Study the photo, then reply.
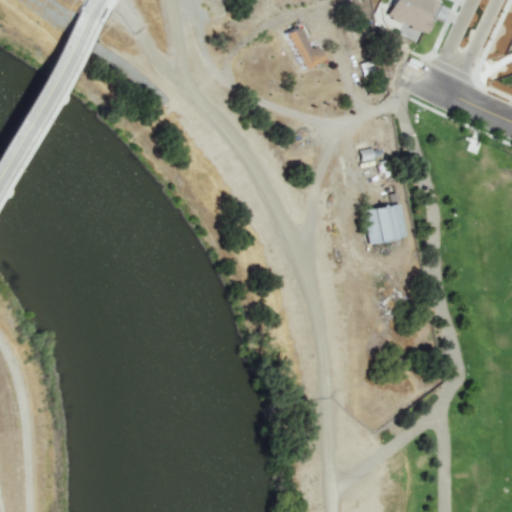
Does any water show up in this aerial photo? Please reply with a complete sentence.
Yes, there's water in this view.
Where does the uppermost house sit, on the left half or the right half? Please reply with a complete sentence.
The uppermost house is on the right side of the image.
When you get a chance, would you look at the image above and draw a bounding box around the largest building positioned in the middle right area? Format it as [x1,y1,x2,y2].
[369,204,408,244]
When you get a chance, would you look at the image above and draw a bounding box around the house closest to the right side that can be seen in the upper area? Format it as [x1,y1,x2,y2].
[389,0,443,42]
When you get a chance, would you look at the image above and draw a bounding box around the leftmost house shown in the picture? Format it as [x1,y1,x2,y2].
[288,27,327,69]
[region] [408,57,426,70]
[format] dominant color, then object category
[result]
white vehicle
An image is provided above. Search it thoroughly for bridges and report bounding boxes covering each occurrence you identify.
[0,0,117,212]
